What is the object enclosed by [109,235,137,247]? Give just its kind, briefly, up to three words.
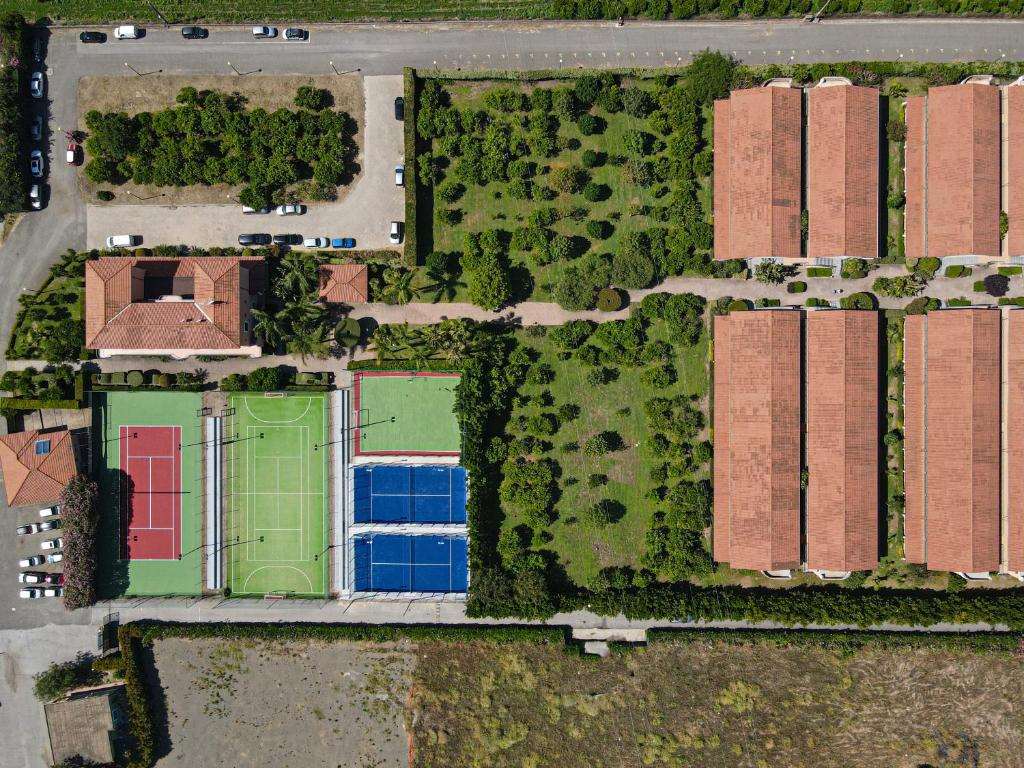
vehicle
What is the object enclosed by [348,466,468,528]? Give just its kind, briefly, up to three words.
sports court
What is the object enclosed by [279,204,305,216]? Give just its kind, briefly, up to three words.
vehicle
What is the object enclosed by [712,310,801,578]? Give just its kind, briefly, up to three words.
house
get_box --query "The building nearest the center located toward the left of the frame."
[319,264,369,303]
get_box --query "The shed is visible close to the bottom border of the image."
[45,691,121,768]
